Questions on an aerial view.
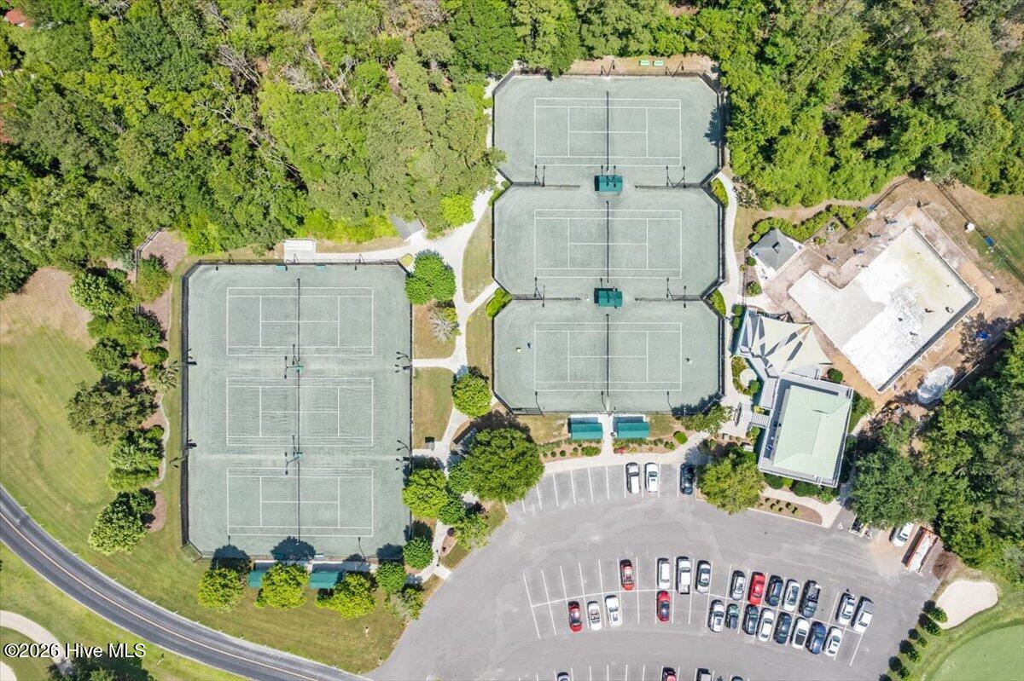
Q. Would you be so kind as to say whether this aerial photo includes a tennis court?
Yes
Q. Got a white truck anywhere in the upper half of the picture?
No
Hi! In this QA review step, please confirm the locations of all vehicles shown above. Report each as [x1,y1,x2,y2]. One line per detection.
[679,464,694,494]
[621,559,636,590]
[782,579,799,610]
[625,462,640,495]
[807,622,827,653]
[587,601,601,631]
[800,579,820,617]
[836,593,855,624]
[851,596,876,634]
[568,602,582,630]
[757,608,774,640]
[741,604,759,636]
[695,561,710,591]
[748,572,765,604]
[791,619,808,647]
[606,595,621,627]
[725,603,740,630]
[823,625,841,657]
[657,557,671,589]
[697,671,712,681]
[766,575,784,606]
[676,557,692,595]
[645,462,659,493]
[890,519,916,548]
[708,600,725,632]
[558,674,570,681]
[774,612,792,644]
[657,590,671,621]
[730,571,745,598]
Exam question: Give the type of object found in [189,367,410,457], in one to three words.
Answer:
tennis court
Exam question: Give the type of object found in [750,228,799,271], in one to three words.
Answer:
building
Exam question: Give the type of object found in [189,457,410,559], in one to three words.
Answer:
tennis court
